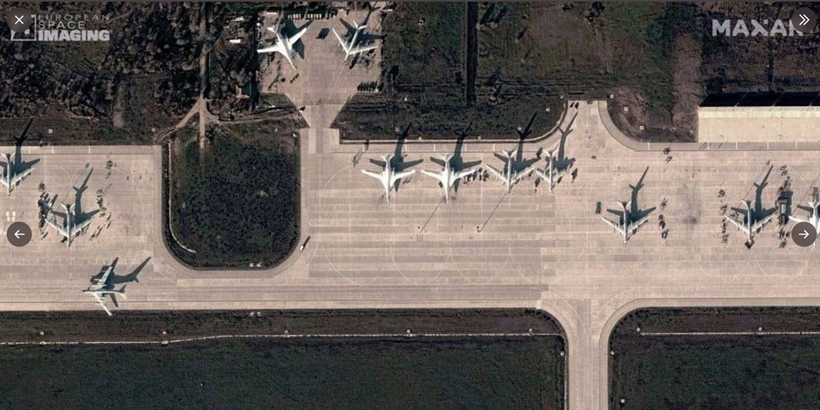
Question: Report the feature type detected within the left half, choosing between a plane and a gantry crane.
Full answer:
It is a plane that can be seen within the left half.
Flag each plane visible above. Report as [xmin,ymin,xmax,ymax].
[601,198,651,247]
[333,16,380,62]
[82,266,128,316]
[257,24,306,70]
[420,154,474,203]
[787,202,820,250]
[361,154,416,203]
[534,146,569,192]
[43,199,93,247]
[484,147,533,195]
[0,150,34,199]
[725,197,775,243]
